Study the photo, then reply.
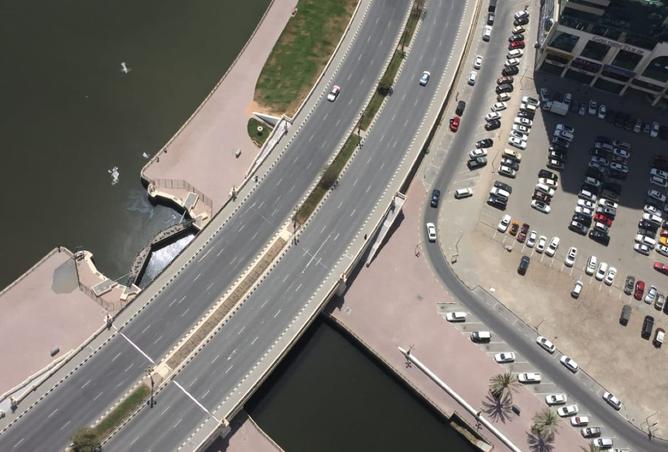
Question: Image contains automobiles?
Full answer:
Yes, there is an automobile in the image.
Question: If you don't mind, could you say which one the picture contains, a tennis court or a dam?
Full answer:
Of the two, only a dam appears.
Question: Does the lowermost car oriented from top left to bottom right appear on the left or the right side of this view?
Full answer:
You can find the lowermost car oriented from top left to bottom right on the right side of the picture.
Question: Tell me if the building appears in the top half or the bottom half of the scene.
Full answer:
You can find the building in the top half.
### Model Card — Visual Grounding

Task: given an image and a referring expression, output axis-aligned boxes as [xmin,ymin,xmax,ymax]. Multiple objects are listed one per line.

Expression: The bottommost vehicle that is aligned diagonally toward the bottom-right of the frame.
[601,391,622,411]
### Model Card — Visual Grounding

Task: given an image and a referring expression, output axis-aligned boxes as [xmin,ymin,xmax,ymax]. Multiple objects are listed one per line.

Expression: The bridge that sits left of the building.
[0,0,478,452]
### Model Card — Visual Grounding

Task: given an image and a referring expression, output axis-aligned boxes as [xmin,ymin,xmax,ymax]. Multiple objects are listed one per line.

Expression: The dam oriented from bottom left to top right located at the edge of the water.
[129,222,200,286]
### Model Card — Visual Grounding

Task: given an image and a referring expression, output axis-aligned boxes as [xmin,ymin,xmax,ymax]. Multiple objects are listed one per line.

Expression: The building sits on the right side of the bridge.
[536,0,668,98]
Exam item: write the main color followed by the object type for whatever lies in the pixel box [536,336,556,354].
white car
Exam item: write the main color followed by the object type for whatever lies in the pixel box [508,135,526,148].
white vehicle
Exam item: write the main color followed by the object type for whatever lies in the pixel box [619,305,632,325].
gray vehicle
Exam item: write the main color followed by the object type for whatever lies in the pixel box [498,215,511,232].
white vehicle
